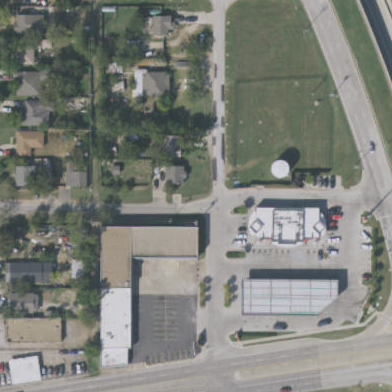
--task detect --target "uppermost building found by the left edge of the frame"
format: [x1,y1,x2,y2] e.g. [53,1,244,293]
[14,14,44,32]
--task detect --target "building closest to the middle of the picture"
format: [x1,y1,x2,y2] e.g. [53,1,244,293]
[166,166,186,184]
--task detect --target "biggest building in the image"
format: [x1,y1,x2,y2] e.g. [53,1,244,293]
[100,226,198,368]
